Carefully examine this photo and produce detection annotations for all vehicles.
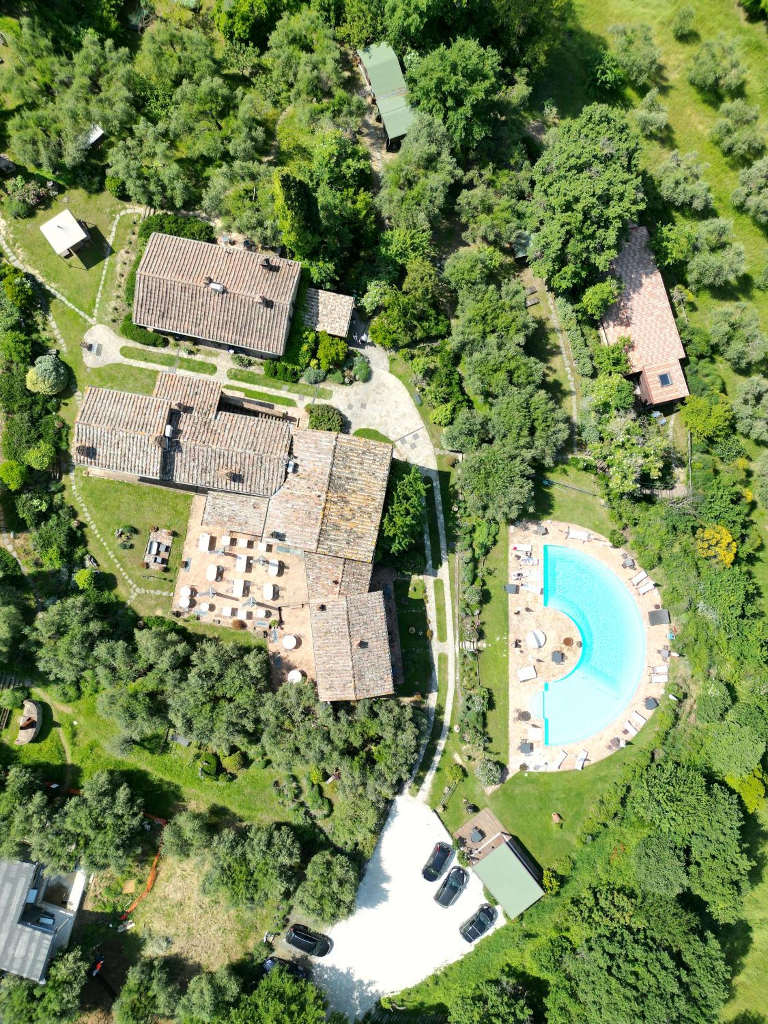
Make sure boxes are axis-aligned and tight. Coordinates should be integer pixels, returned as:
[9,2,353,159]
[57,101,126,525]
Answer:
[459,899,497,946]
[285,920,335,956]
[260,949,309,980]
[420,838,455,883]
[433,863,468,911]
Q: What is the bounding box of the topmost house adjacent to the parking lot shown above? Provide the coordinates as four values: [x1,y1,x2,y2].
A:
[72,371,395,702]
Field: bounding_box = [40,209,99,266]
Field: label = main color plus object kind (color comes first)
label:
white gazebo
